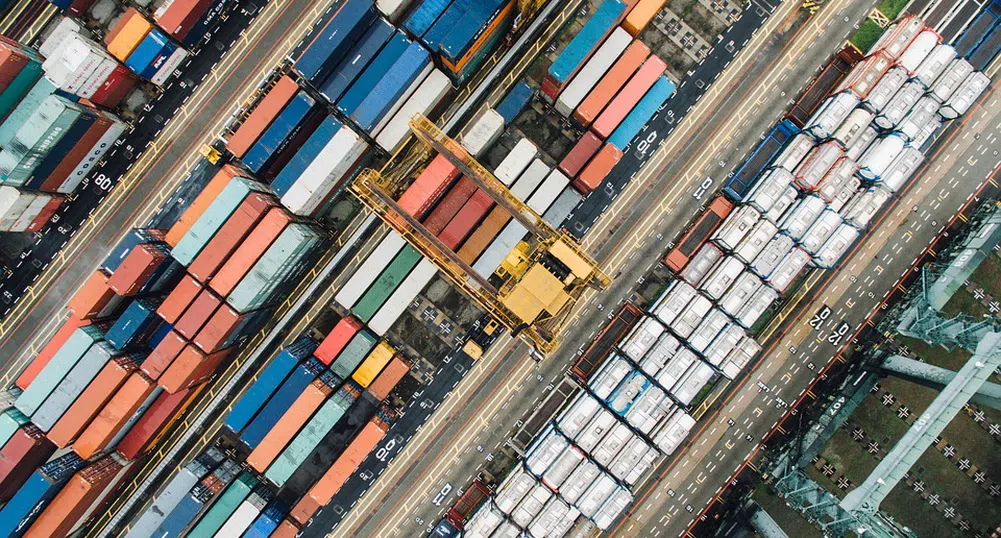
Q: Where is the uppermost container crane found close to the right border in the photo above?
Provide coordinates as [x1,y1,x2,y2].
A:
[882,173,1001,353]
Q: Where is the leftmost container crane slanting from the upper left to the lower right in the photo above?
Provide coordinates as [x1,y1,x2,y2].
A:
[350,109,611,356]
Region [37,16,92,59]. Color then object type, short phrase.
white shipping container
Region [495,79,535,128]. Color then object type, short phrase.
blue shipping container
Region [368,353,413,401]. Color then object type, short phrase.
red shipping container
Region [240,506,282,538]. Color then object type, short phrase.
blue shipping container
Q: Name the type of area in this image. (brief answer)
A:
industrial area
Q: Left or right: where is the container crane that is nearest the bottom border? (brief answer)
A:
right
